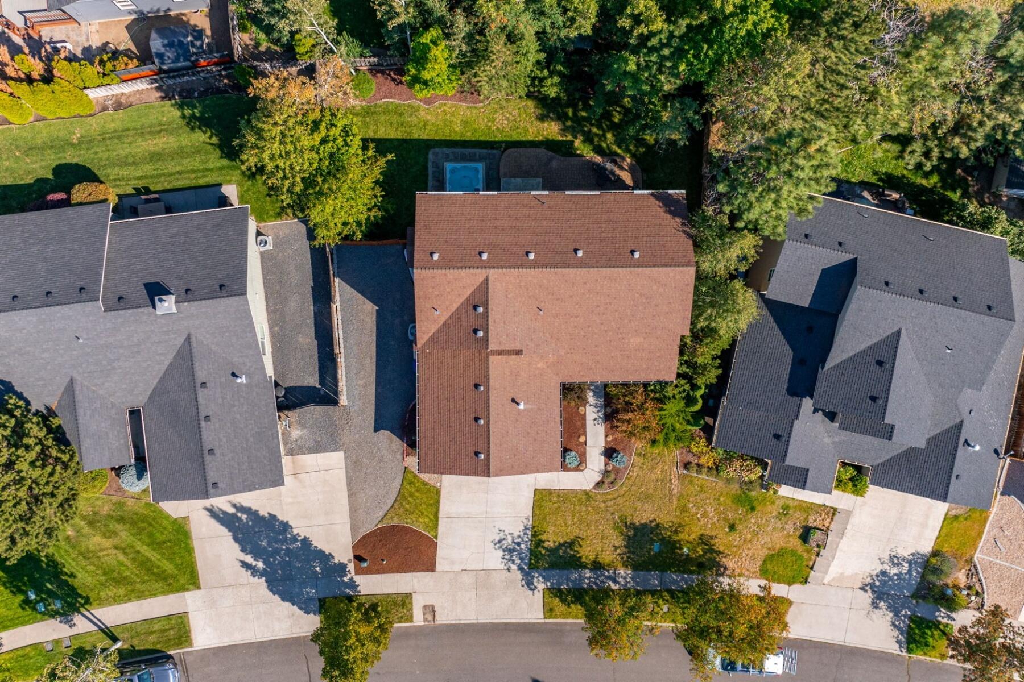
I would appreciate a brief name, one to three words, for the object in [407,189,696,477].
house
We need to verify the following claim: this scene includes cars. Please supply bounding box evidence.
[706,642,796,682]
[103,652,184,682]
